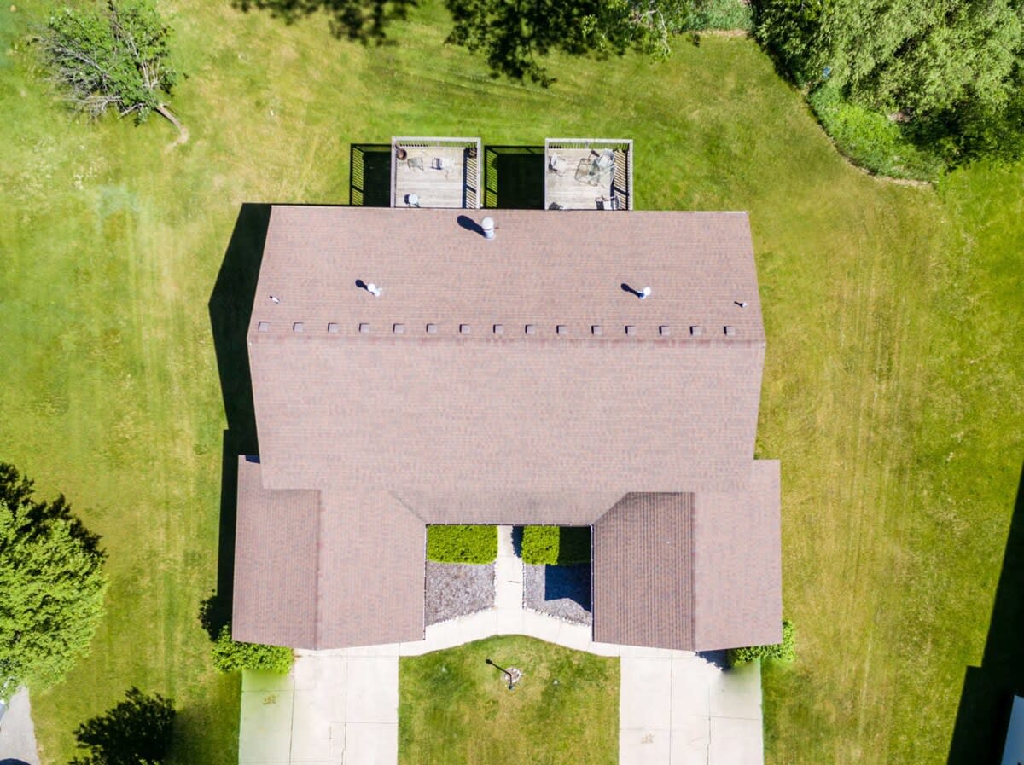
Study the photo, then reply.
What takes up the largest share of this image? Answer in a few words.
grass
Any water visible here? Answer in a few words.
No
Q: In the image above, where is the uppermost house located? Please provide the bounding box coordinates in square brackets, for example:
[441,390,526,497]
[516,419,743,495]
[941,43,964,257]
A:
[231,206,784,652]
